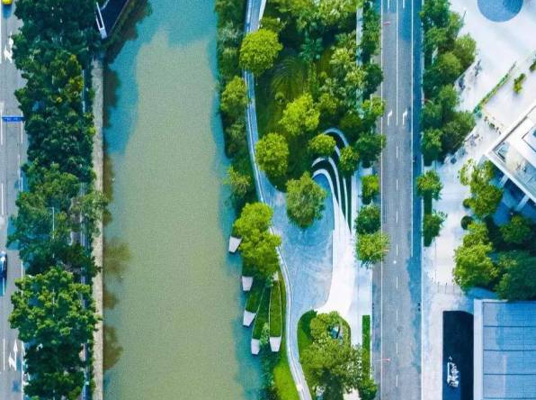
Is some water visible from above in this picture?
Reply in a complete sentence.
Yes, some water is visible.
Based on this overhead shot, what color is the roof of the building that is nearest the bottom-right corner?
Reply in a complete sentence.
The roof over the building that is nearest the bottom-right corner appears blue.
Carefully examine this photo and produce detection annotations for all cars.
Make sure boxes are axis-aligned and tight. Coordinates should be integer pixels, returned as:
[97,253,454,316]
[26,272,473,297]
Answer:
[1,0,12,13]
[0,252,7,279]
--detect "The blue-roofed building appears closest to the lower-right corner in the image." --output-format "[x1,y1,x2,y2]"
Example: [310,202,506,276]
[475,301,536,400]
